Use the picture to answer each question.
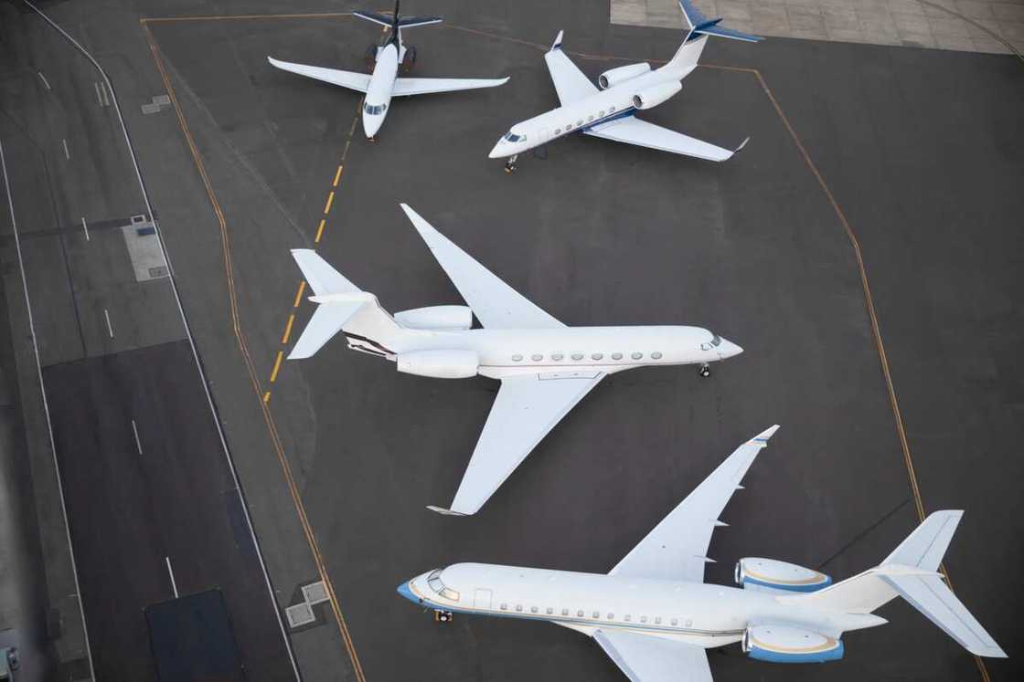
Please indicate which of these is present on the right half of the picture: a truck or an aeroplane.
aeroplane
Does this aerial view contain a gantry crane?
No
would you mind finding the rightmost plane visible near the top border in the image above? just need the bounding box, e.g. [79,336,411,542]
[489,0,764,171]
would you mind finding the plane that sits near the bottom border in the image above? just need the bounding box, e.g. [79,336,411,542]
[397,425,1007,682]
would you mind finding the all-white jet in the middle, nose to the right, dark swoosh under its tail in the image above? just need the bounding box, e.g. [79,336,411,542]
[287,204,744,514]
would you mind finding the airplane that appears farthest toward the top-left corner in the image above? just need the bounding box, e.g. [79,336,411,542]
[269,0,511,144]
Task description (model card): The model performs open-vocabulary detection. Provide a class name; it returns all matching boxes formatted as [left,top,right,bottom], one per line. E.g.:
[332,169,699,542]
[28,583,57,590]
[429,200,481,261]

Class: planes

[269,0,511,144]
[489,0,764,171]
[397,425,1007,682]
[287,204,744,514]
